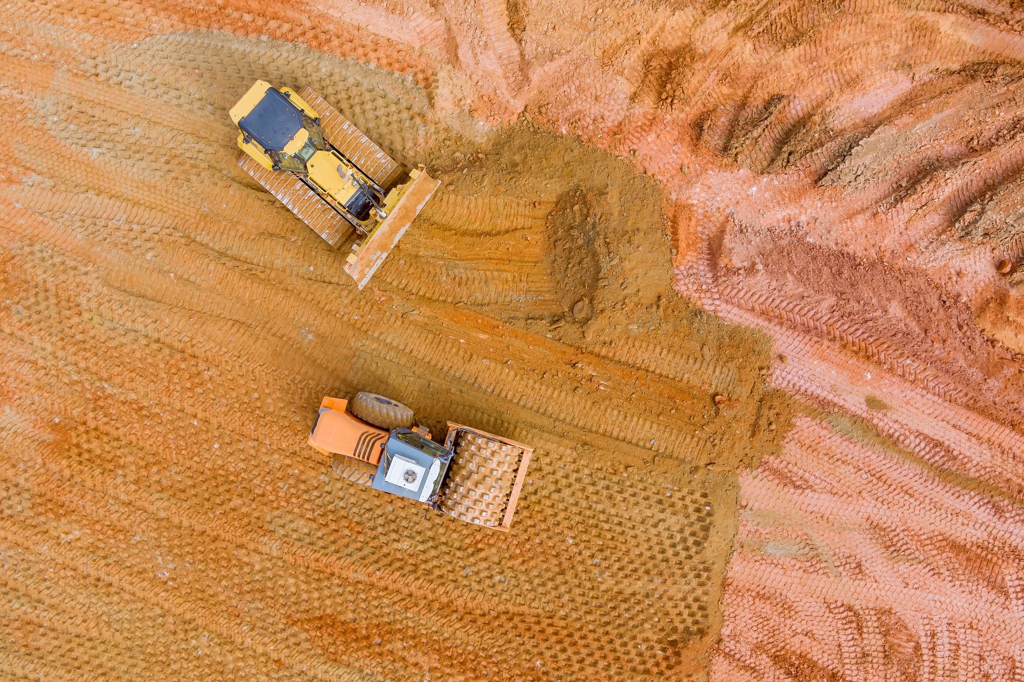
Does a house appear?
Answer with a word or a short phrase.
No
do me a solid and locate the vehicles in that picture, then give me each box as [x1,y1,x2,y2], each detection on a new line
[307,391,535,532]
[230,80,440,285]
